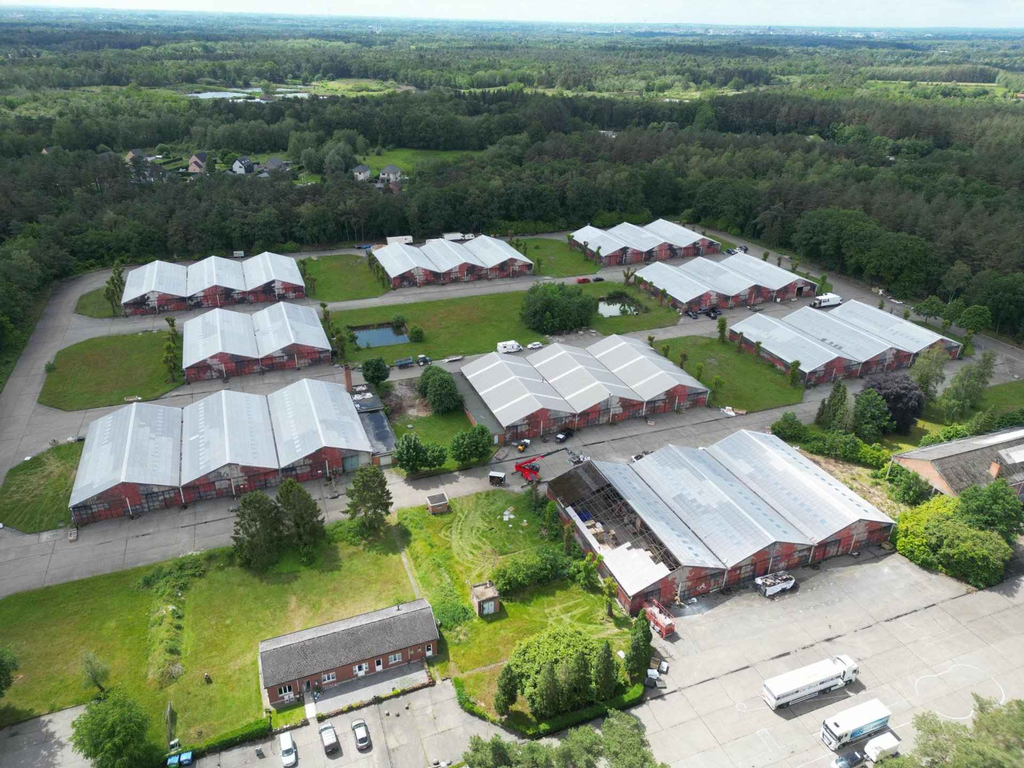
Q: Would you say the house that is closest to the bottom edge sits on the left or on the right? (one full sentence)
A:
The house that is closest to the bottom edge is on the left side of the image.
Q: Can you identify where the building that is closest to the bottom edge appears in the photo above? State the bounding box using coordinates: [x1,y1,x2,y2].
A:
[257,600,439,702]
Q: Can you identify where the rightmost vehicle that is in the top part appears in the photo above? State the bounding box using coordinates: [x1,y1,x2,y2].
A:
[811,291,845,308]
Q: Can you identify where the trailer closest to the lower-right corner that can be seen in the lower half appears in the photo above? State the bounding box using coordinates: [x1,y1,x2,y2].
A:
[865,726,906,759]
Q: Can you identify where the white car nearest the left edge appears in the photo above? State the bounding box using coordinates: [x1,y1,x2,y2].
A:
[278,728,296,767]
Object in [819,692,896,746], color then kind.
white truck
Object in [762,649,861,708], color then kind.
white truck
